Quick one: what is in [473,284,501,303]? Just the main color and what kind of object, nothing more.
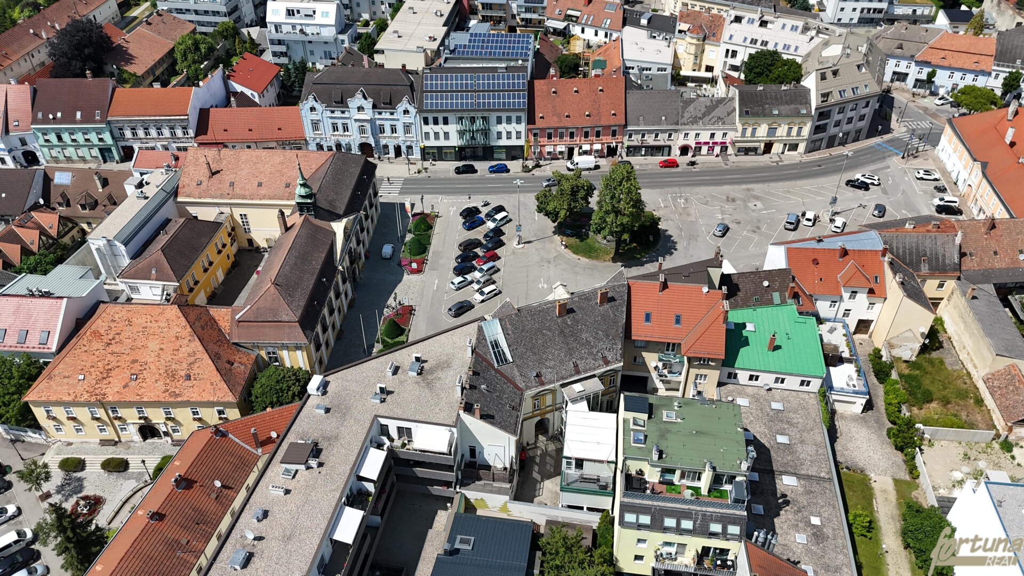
white car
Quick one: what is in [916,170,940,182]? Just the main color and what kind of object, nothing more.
white vehicle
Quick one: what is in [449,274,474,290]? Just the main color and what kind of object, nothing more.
white car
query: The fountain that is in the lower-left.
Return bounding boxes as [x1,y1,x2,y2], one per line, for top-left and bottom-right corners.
[62,489,112,526]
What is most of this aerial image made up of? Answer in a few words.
buildings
